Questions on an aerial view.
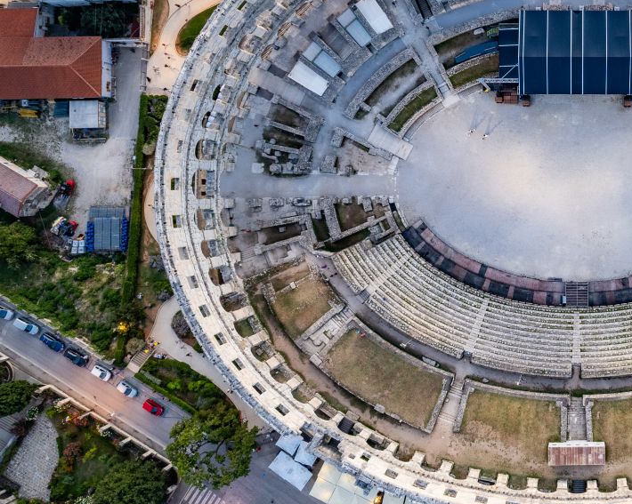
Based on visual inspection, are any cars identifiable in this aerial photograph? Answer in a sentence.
Yes, there is a car in the image.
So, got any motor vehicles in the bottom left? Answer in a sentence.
Yes, you'll find a motor vehicle in the bottom left.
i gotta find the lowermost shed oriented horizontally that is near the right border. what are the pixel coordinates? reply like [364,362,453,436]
[549,440,605,466]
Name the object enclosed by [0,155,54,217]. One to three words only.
barn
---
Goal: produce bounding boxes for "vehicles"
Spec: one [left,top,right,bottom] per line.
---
[141,397,166,416]
[47,216,77,240]
[10,314,41,336]
[89,362,114,381]
[38,331,66,351]
[0,304,17,322]
[115,379,140,398]
[63,345,90,365]
[49,180,73,208]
